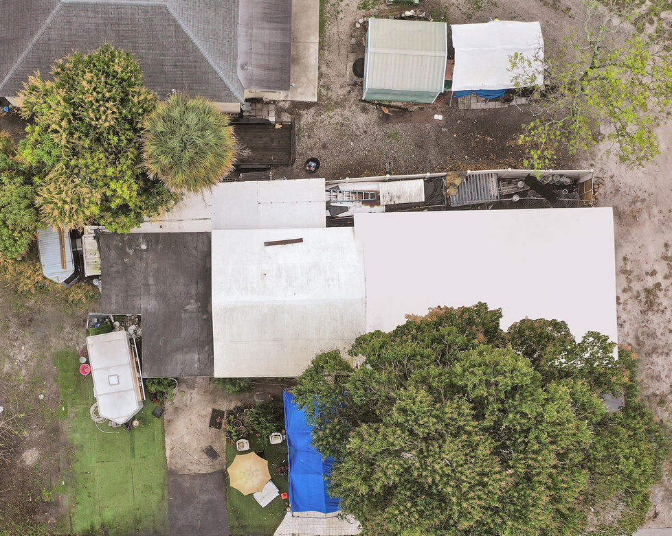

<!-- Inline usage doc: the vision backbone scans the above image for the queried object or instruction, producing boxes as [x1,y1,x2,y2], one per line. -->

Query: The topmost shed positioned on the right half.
[362,17,449,104]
